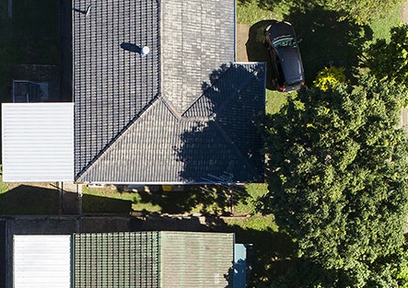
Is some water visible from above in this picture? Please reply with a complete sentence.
No, there is no water in the image.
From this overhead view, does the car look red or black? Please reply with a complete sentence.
From above, the car appears black.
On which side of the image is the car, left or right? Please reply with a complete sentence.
It is on the right.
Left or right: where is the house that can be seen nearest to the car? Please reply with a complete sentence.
It is on the left.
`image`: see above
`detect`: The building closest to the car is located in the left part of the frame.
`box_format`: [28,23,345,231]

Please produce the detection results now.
[1,0,268,196]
